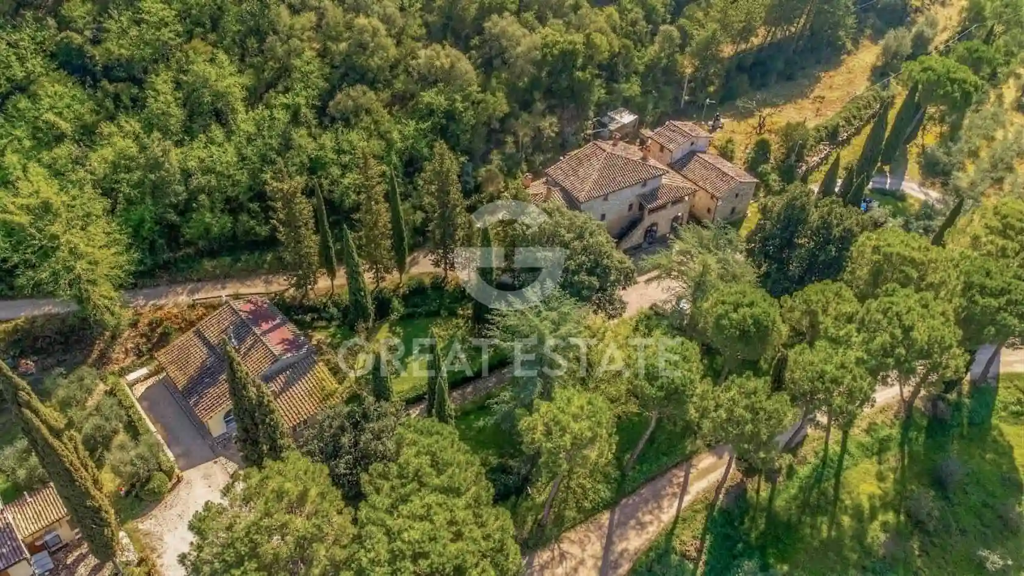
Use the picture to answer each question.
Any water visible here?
No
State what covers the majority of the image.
trees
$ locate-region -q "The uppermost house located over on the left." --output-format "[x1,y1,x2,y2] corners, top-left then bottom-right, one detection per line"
[152,296,342,440]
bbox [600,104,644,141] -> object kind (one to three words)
shed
